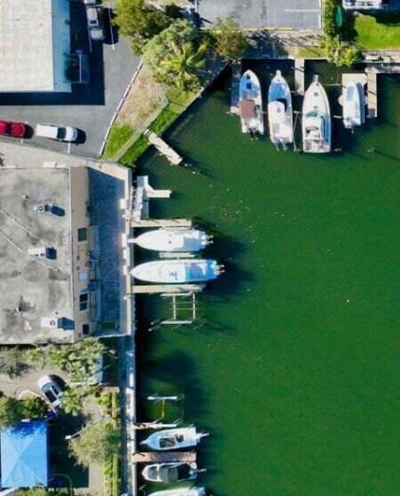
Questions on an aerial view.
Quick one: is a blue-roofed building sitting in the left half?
Yes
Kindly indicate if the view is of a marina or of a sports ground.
marina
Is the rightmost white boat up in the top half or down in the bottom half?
top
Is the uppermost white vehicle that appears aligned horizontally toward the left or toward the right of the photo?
left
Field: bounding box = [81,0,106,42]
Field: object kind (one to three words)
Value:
truck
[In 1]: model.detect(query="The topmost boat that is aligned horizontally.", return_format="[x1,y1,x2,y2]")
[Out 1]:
[123,228,218,250]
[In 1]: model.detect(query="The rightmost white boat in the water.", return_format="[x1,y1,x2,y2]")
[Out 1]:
[343,82,363,132]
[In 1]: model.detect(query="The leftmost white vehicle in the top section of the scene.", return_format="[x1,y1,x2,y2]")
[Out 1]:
[33,123,84,143]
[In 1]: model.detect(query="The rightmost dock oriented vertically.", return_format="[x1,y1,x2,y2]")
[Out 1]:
[364,75,380,118]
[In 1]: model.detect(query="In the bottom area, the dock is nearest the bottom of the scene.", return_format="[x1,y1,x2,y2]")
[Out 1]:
[136,448,197,465]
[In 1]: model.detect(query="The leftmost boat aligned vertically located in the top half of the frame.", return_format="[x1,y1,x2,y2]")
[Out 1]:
[237,69,265,140]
